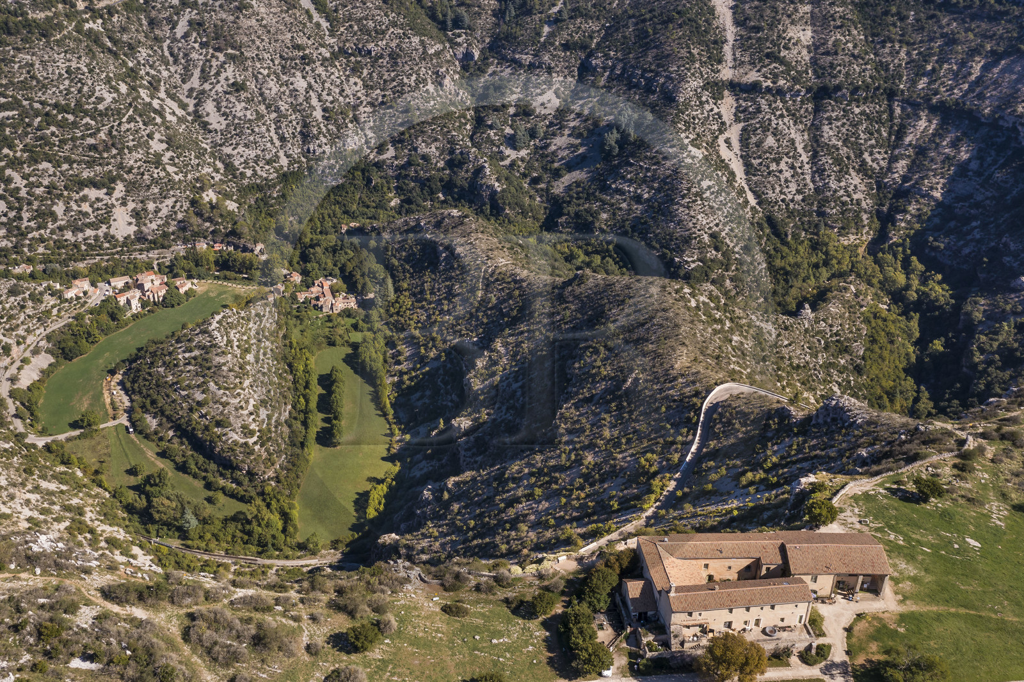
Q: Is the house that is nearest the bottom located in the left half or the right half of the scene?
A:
right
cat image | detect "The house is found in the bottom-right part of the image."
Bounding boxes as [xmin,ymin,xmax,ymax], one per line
[625,532,893,647]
